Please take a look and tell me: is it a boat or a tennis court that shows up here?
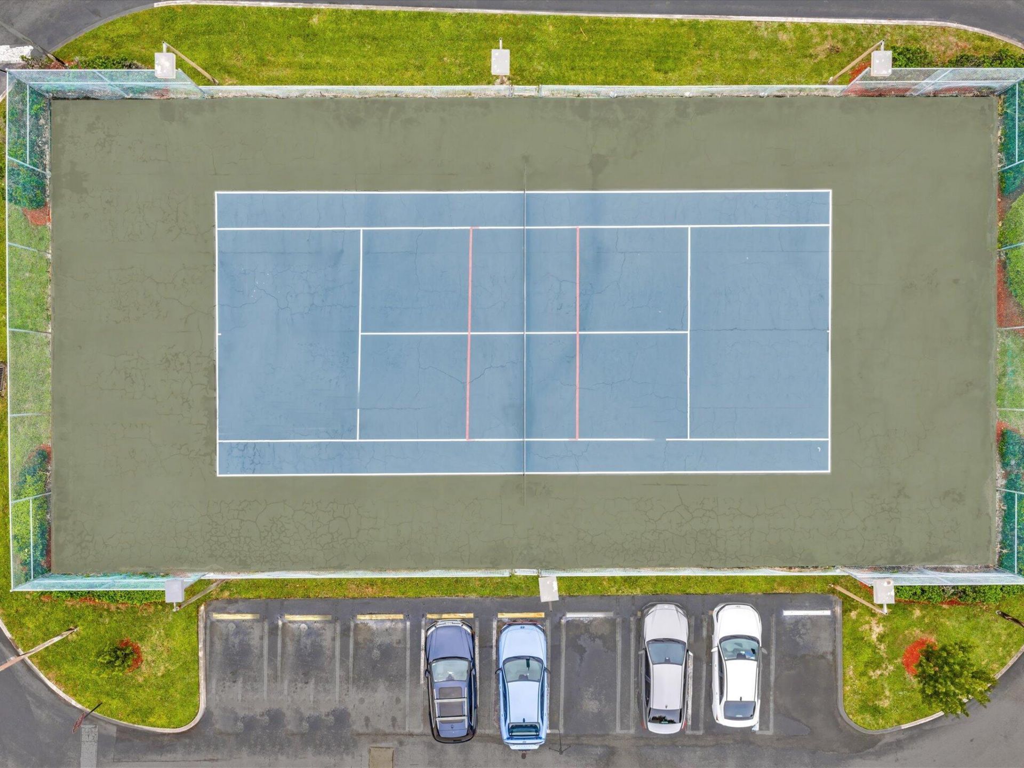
tennis court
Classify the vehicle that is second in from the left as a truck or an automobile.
automobile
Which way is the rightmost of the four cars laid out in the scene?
vertically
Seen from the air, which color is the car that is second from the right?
white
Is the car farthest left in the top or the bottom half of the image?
bottom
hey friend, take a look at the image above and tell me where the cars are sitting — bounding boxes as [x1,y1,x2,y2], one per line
[638,600,696,731]
[709,601,768,725]
[495,620,552,756]
[421,617,479,740]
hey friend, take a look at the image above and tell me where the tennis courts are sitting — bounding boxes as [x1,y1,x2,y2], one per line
[48,95,1000,574]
